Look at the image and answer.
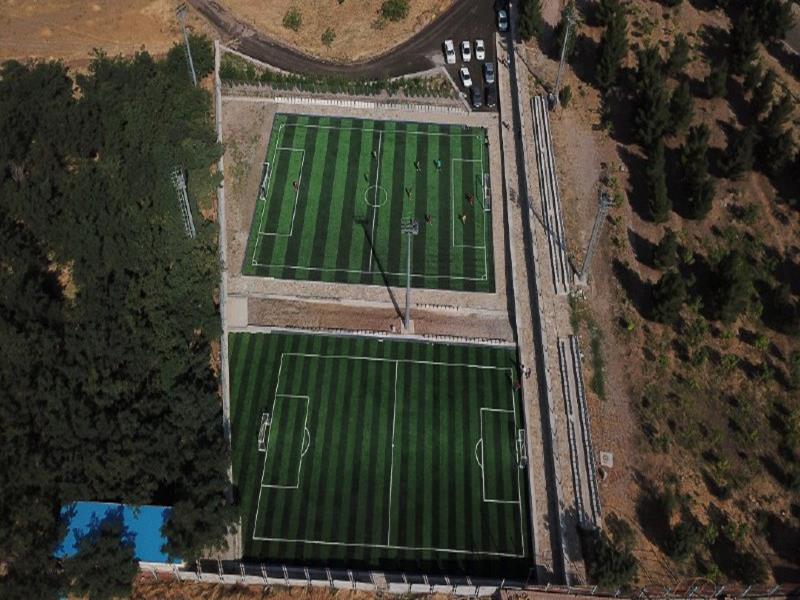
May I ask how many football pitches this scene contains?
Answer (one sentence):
Looking from above, you can make out 2 football pitches.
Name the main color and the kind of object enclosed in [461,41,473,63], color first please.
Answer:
white vehicle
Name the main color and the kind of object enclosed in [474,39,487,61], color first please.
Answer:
white vehicle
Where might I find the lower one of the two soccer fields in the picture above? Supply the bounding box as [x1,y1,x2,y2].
[228,334,534,582]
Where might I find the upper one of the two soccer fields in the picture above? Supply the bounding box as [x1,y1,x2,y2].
[242,113,495,292]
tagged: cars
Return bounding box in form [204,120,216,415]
[443,39,456,63]
[459,66,473,90]
[461,41,473,63]
[497,8,509,28]
[474,39,487,61]
[470,86,483,111]
[483,62,495,85]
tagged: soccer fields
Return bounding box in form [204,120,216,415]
[228,334,534,582]
[242,113,495,292]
